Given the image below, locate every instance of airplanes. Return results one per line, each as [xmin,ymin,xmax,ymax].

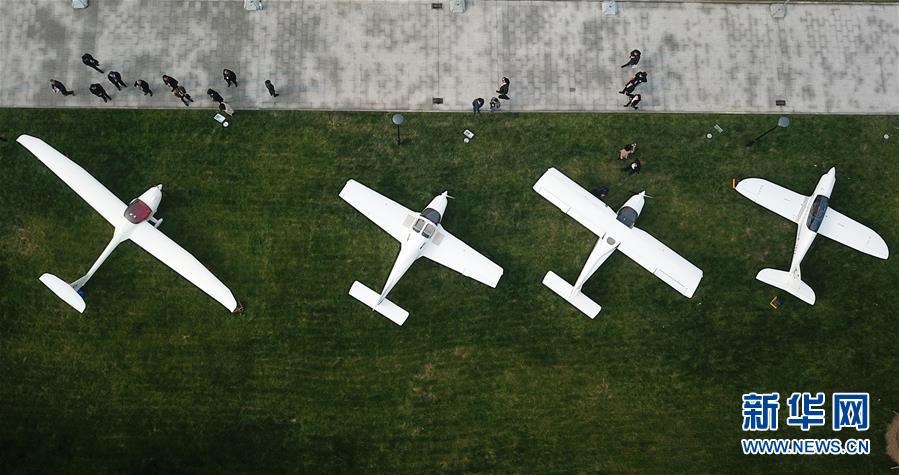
[339,179,503,324]
[533,168,704,319]
[19,137,237,313]
[737,168,890,305]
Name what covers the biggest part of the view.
grass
